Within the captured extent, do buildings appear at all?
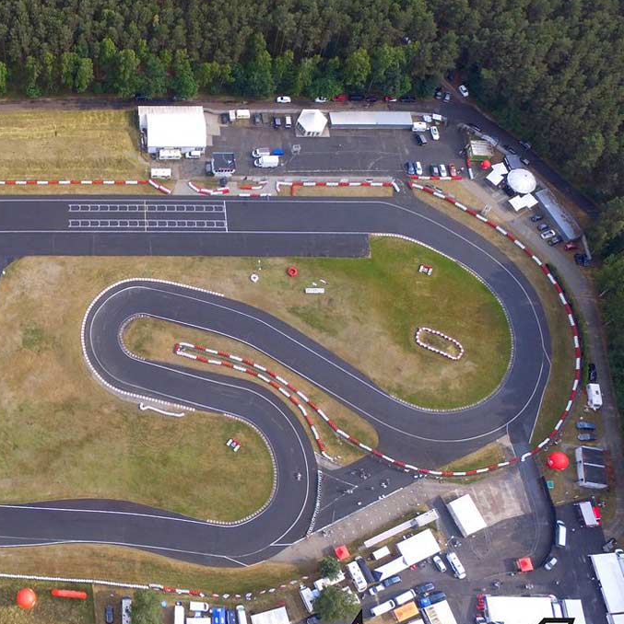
Yes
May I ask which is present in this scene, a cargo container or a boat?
cargo container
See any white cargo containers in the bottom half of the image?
Yes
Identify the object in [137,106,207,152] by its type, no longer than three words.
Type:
building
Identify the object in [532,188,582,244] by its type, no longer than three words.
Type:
shed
